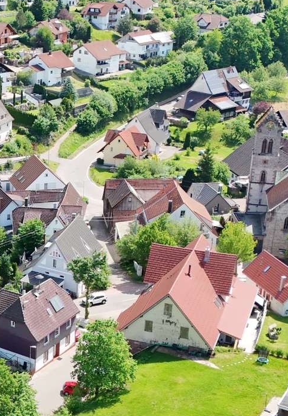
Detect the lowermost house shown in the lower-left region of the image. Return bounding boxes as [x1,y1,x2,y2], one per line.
[0,277,76,361]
